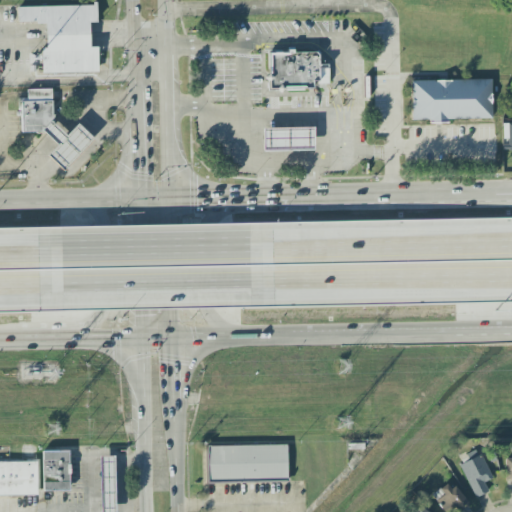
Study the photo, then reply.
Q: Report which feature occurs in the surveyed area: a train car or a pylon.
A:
pylon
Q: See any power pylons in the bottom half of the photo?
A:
Yes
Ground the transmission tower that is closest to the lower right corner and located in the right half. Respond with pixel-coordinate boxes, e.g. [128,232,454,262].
[337,416,355,436]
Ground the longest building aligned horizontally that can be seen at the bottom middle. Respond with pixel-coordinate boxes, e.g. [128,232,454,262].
[210,444,290,484]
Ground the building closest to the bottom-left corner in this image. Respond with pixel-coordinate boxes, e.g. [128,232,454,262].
[0,460,40,496]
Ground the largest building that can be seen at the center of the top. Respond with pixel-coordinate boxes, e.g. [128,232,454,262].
[269,48,331,91]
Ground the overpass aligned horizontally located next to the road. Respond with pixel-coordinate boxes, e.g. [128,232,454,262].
[0,217,512,310]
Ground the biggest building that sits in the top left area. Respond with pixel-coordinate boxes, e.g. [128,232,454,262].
[17,2,100,74]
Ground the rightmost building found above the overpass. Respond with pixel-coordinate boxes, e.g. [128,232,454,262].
[412,79,494,124]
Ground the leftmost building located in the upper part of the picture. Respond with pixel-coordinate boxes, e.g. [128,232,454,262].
[18,88,56,132]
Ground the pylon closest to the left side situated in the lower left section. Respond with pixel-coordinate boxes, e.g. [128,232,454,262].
[46,420,62,439]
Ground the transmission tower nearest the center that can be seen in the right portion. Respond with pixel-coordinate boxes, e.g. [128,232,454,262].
[336,357,354,376]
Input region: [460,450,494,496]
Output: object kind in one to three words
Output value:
house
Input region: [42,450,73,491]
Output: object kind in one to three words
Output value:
building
